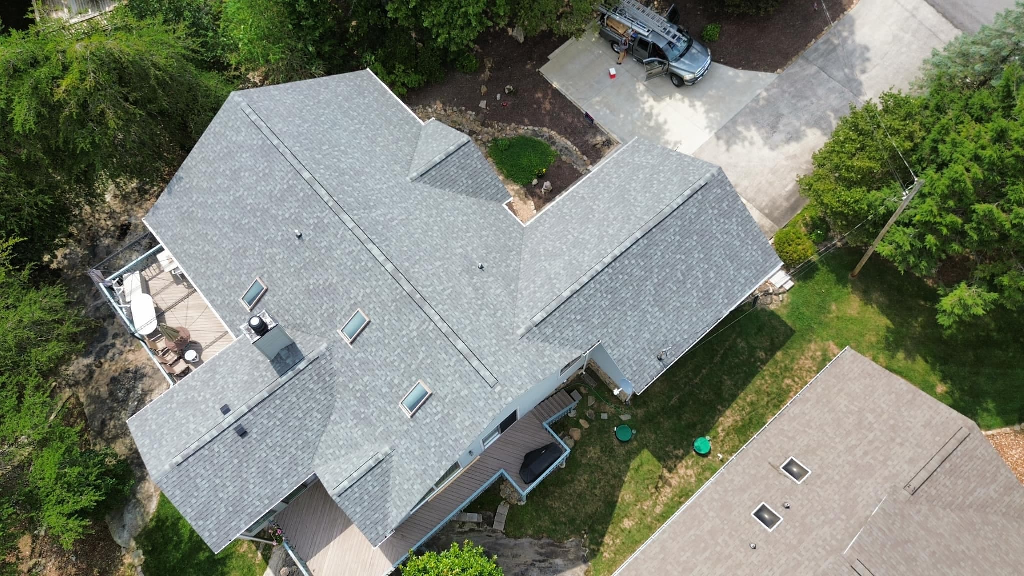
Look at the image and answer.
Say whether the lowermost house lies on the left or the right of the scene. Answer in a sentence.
The lowermost house appears in the right half of the scene.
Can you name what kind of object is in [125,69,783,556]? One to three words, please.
house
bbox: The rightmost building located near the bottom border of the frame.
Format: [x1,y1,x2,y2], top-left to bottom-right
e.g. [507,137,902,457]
[609,348,1024,576]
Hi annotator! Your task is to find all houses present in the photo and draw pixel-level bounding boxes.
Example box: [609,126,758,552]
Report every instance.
[125,69,783,556]
[609,348,1024,576]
